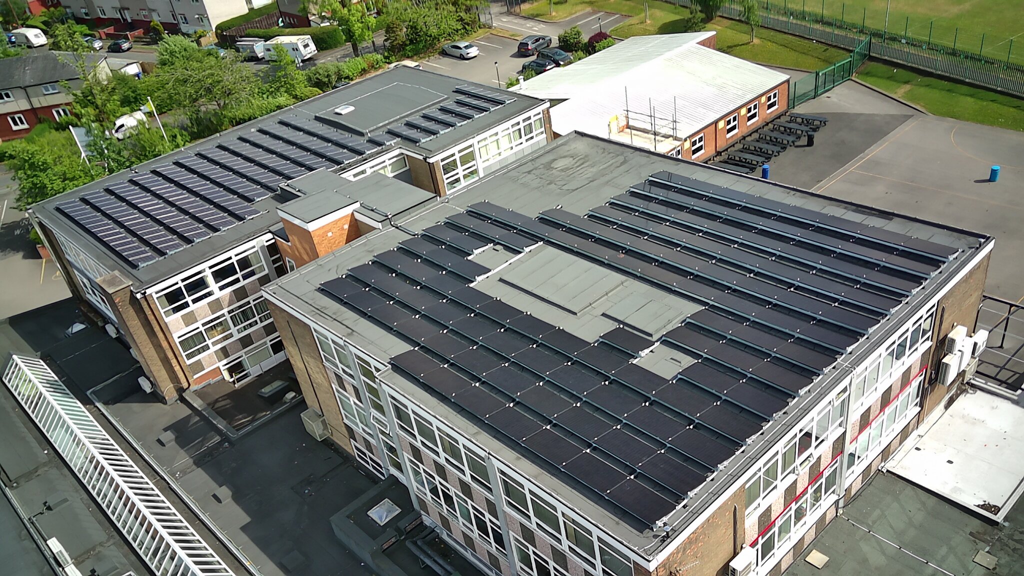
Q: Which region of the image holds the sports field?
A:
top right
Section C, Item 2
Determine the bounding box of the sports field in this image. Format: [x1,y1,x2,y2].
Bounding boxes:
[729,0,1024,70]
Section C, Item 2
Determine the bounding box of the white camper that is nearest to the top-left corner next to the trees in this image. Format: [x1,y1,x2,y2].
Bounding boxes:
[7,25,42,47]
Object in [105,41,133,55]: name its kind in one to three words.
car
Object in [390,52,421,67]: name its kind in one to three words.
car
